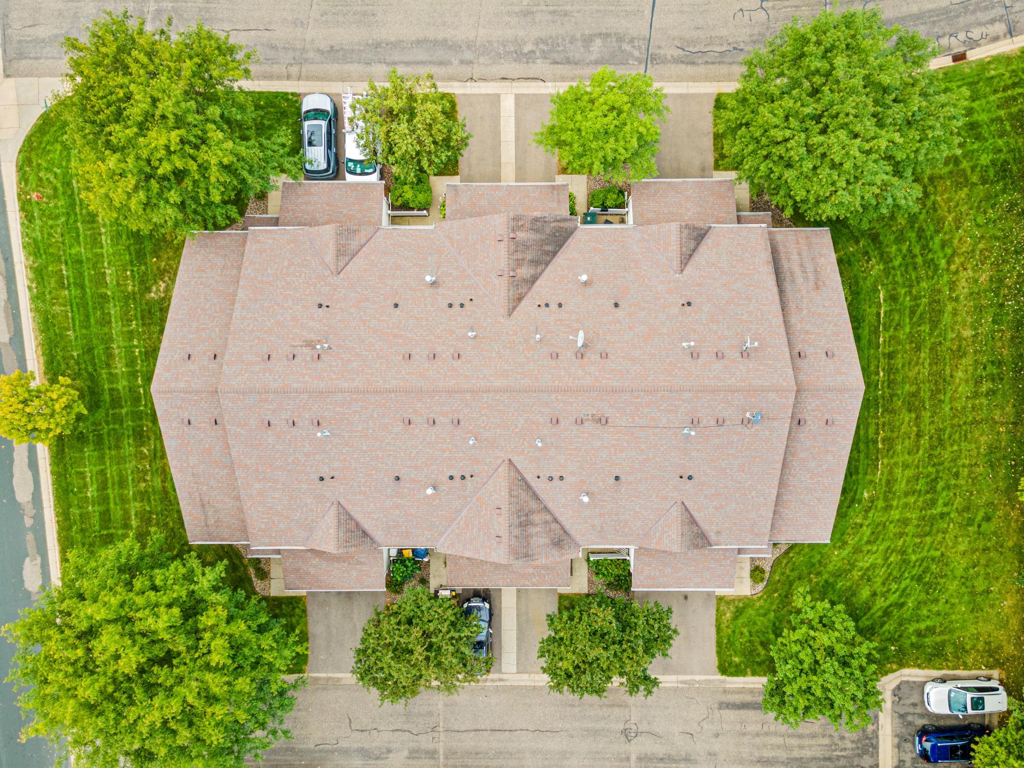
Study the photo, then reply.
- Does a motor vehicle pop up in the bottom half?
Yes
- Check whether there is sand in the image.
No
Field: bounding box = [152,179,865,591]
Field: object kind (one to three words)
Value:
house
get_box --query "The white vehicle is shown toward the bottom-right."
[920,673,1011,719]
